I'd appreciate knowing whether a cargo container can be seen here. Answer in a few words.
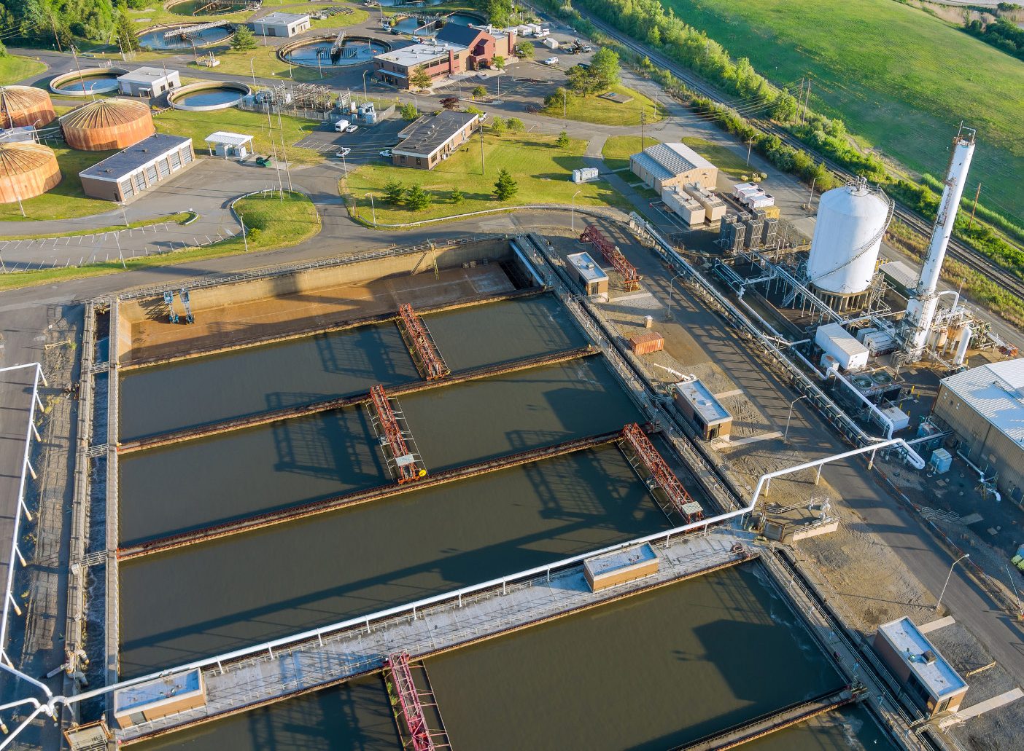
Yes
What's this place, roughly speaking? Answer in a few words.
industrial area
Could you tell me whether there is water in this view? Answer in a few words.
Yes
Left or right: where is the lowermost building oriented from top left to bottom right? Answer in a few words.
right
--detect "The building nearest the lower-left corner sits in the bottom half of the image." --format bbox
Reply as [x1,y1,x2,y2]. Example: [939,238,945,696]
[114,662,209,728]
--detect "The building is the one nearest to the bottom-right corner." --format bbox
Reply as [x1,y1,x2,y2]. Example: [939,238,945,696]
[874,615,967,717]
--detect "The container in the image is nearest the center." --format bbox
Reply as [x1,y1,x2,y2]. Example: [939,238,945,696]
[629,327,671,355]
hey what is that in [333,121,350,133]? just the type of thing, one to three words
vehicle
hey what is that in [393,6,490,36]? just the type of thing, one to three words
storage tank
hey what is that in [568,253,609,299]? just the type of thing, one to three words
building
